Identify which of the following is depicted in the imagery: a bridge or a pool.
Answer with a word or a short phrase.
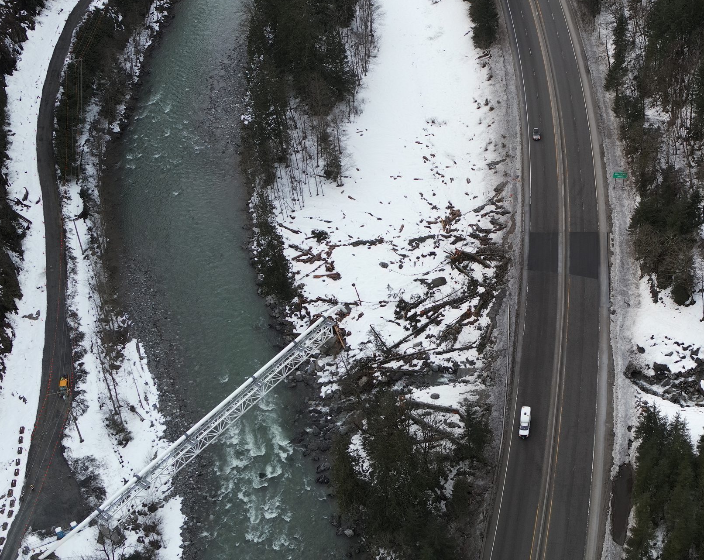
bridge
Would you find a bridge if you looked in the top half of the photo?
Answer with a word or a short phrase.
No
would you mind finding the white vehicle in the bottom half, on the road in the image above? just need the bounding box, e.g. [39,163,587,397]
[518,408,530,438]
